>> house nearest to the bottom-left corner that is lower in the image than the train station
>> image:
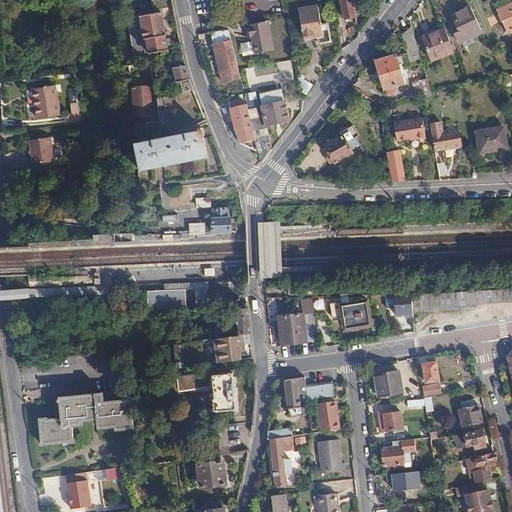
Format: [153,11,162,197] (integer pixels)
[68,472,92,508]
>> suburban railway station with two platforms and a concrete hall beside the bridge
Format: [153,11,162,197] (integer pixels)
[0,219,512,282]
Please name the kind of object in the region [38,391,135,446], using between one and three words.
building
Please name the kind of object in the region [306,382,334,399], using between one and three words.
building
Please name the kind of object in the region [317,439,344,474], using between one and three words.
house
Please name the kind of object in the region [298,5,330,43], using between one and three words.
house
